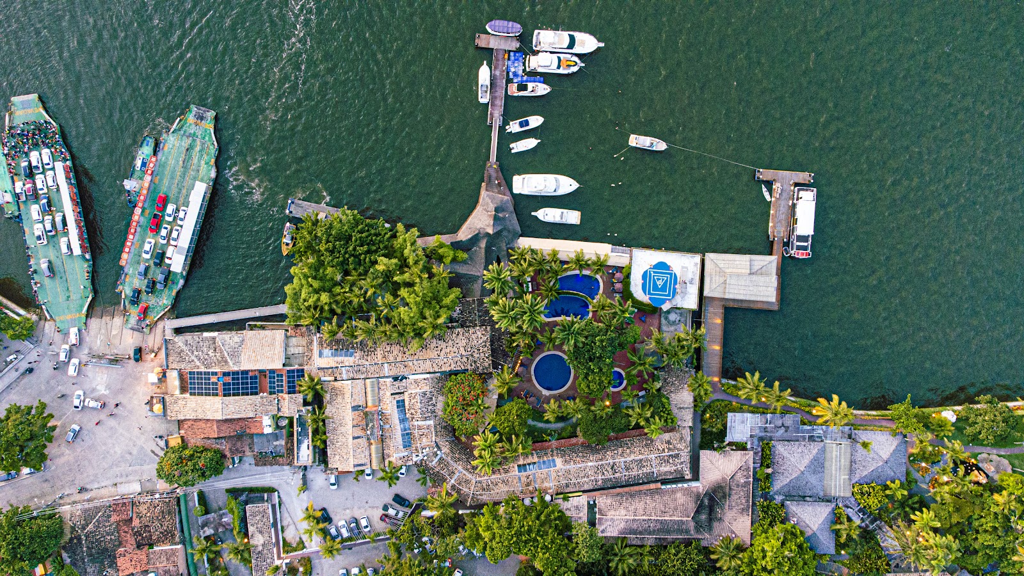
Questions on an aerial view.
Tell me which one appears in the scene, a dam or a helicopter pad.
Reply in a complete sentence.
Visible in the photo is a helicopter pad.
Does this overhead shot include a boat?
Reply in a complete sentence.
Yes, this view includes a boat.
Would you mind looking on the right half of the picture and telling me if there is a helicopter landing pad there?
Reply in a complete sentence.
Yes, the scene does show a helicopter landing pad on the right half of the picture.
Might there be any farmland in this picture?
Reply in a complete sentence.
No, the scene doesn't show any farmland.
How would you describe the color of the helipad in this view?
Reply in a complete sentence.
In this view, the helipad is white.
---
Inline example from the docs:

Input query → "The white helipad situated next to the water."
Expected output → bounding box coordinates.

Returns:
[630,248,702,311]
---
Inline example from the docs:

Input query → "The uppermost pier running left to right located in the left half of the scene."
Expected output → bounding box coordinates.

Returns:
[286,199,342,220]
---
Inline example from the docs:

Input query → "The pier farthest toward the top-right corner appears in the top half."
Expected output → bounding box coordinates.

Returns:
[753,169,814,241]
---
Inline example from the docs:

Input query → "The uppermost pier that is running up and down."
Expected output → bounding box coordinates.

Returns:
[476,34,520,128]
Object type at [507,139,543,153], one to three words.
boat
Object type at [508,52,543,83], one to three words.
pier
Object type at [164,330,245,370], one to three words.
house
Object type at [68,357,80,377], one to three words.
vehicle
